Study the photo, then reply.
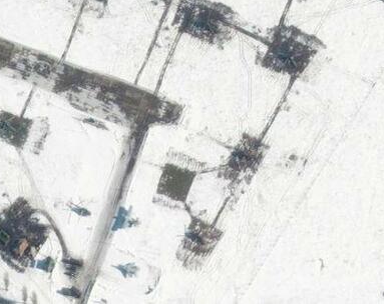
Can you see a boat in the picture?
No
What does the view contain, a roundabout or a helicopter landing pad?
helicopter landing pad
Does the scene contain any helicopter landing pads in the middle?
Yes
